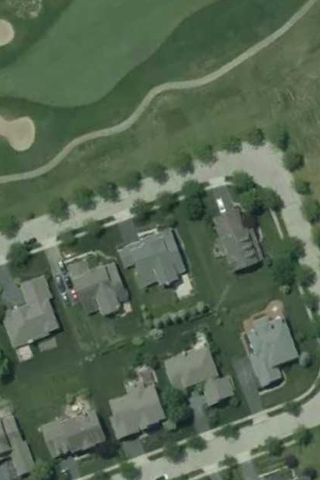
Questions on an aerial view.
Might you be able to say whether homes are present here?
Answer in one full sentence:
Yes, there's a home down there.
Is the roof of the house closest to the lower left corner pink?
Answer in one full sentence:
No, the color of the roof of the house closest to the lower left corner is gray.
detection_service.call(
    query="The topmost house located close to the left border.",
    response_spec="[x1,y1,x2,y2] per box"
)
[0,278,62,361]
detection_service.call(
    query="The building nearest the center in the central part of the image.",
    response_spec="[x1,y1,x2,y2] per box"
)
[115,228,193,299]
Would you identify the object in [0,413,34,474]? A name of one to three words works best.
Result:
house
